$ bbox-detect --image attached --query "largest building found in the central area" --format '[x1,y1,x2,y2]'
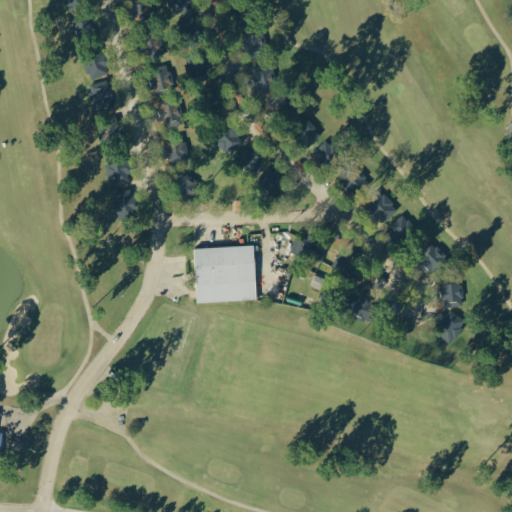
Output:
[194,244,258,304]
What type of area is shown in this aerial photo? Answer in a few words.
golf course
